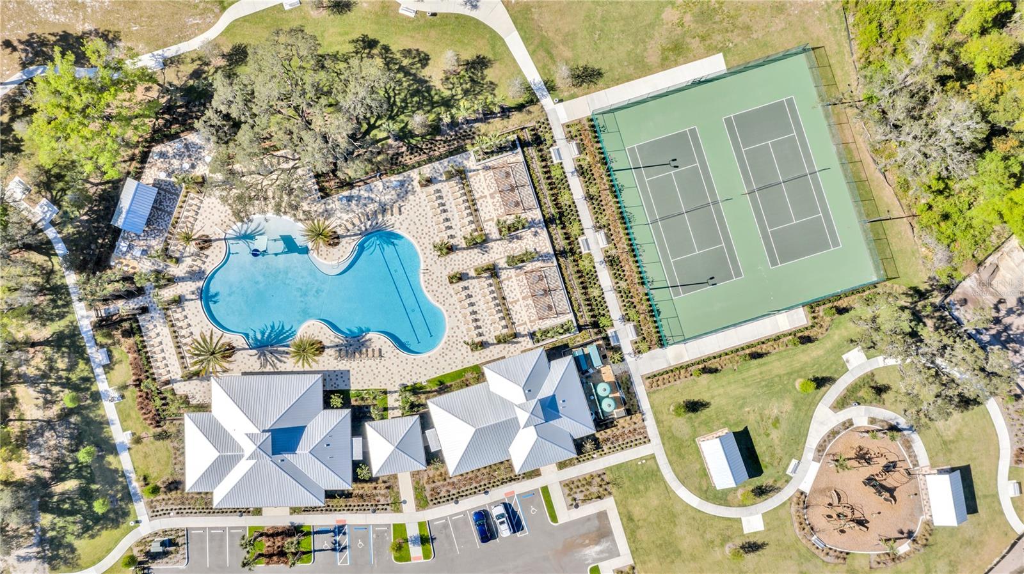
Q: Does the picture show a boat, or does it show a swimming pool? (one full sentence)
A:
There is a swimming pool in the scene.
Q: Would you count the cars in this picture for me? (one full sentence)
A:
The number of cars here is 2.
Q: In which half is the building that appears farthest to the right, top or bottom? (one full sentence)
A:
The bottom half of the photo is where the building that appears farthest to the right is.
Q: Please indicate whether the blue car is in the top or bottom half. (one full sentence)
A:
You can find the blue car in the bottom half.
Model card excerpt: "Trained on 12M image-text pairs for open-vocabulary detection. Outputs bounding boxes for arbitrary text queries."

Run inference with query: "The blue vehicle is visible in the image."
[473,511,493,545]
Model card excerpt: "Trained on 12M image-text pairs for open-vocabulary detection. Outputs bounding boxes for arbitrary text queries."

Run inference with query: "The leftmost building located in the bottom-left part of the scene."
[184,374,353,508]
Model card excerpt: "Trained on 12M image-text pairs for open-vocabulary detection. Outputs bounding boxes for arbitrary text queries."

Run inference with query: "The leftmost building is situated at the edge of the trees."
[111,178,164,234]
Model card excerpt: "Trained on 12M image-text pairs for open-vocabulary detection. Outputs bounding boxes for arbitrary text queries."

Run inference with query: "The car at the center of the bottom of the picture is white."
[491,506,511,541]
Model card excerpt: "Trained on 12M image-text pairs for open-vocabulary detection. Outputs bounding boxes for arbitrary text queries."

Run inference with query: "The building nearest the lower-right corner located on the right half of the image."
[919,467,967,527]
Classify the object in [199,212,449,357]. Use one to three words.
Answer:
swimming pool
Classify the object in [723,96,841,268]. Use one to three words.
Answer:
tennis court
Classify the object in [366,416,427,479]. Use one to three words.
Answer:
building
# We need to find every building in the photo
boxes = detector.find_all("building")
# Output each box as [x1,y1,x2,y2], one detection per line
[429,348,597,477]
[111,178,164,234]
[699,431,749,490]
[184,374,353,508]
[919,467,967,527]
[366,416,427,479]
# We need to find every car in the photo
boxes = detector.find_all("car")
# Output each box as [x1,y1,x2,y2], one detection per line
[491,506,511,541]
[473,511,493,545]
